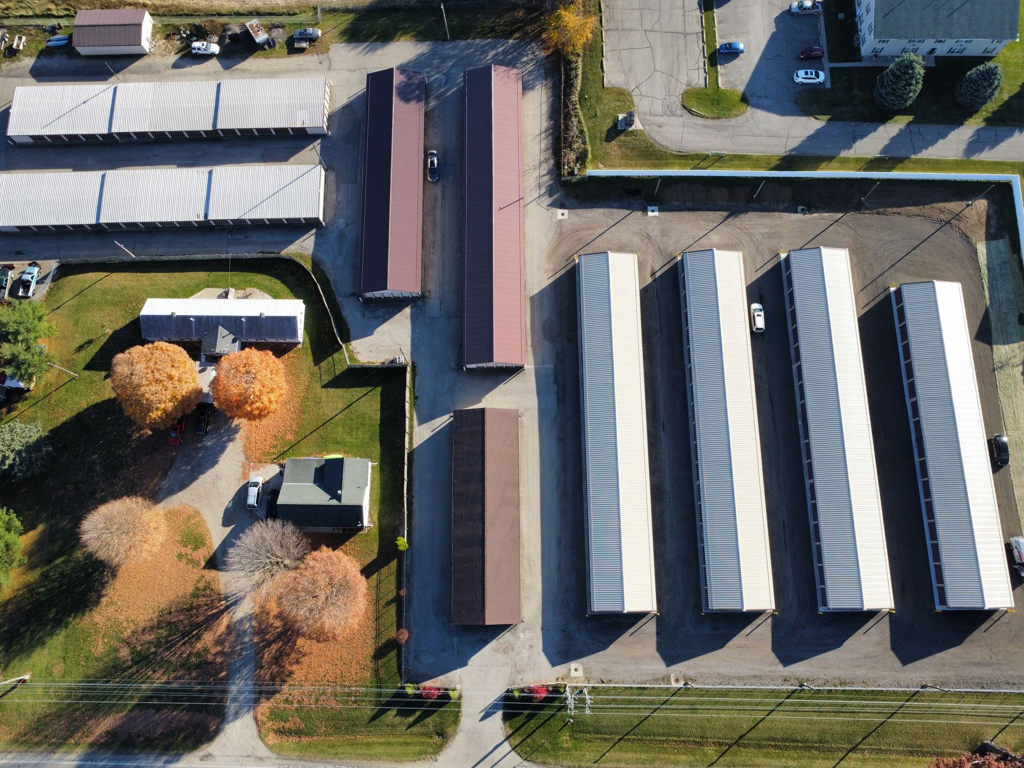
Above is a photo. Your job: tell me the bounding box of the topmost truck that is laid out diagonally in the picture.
[247,17,280,58]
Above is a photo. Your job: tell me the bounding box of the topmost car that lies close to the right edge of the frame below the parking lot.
[991,434,1012,466]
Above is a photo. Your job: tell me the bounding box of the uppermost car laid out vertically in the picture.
[426,151,439,183]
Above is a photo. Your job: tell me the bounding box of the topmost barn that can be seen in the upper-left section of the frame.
[70,8,153,56]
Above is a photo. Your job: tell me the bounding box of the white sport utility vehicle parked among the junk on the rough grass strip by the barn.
[190,40,221,56]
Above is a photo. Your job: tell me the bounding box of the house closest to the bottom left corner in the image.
[274,457,378,536]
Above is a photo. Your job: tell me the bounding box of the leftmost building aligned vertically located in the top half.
[359,66,425,296]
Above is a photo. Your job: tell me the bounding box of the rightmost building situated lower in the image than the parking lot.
[887,281,1015,608]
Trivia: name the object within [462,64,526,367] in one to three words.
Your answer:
building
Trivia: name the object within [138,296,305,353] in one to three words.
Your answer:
house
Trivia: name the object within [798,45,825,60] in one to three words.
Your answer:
car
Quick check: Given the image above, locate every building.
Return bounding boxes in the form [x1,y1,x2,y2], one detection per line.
[674,248,775,611]
[450,407,523,625]
[778,245,895,610]
[887,281,1015,608]
[571,251,660,613]
[70,8,153,56]
[359,66,425,296]
[7,77,330,143]
[462,64,526,367]
[274,457,378,536]
[0,164,325,233]
[854,0,1017,56]
[138,296,305,353]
